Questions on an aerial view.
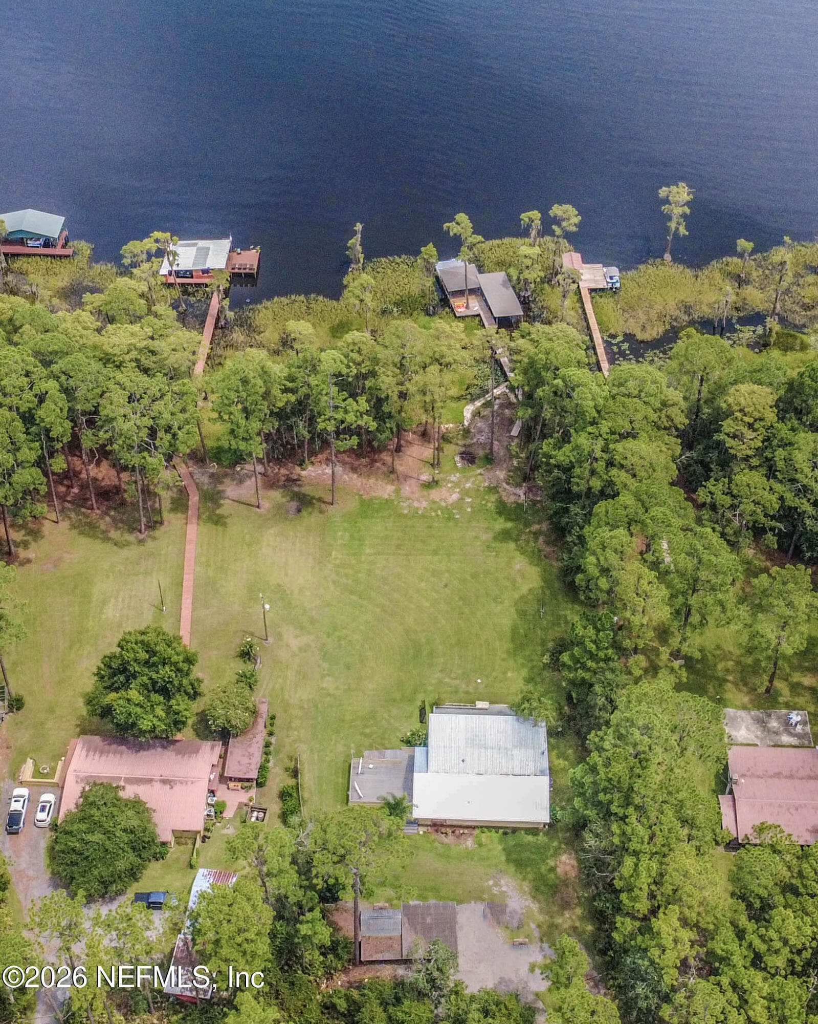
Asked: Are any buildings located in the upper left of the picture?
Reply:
Yes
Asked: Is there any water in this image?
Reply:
Yes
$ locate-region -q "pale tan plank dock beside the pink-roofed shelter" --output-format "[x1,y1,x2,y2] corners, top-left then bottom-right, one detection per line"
[561,264,608,293]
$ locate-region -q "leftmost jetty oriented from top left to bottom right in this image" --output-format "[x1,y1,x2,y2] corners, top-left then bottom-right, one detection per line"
[435,276,480,319]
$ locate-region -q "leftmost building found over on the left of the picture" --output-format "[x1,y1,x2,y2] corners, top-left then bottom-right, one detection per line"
[0,211,66,257]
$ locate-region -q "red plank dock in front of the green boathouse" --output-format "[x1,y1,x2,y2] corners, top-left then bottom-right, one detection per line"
[0,230,73,257]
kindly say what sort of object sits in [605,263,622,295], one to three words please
boat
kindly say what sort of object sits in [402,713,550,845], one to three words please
house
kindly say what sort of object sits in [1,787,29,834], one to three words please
truck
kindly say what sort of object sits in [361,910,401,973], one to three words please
shed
